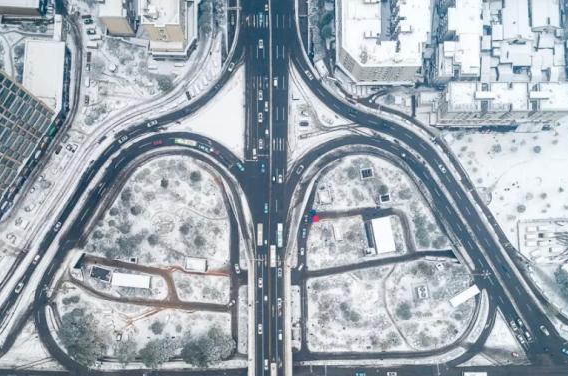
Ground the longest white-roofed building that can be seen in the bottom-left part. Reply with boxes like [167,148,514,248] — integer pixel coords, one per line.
[112,272,152,288]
